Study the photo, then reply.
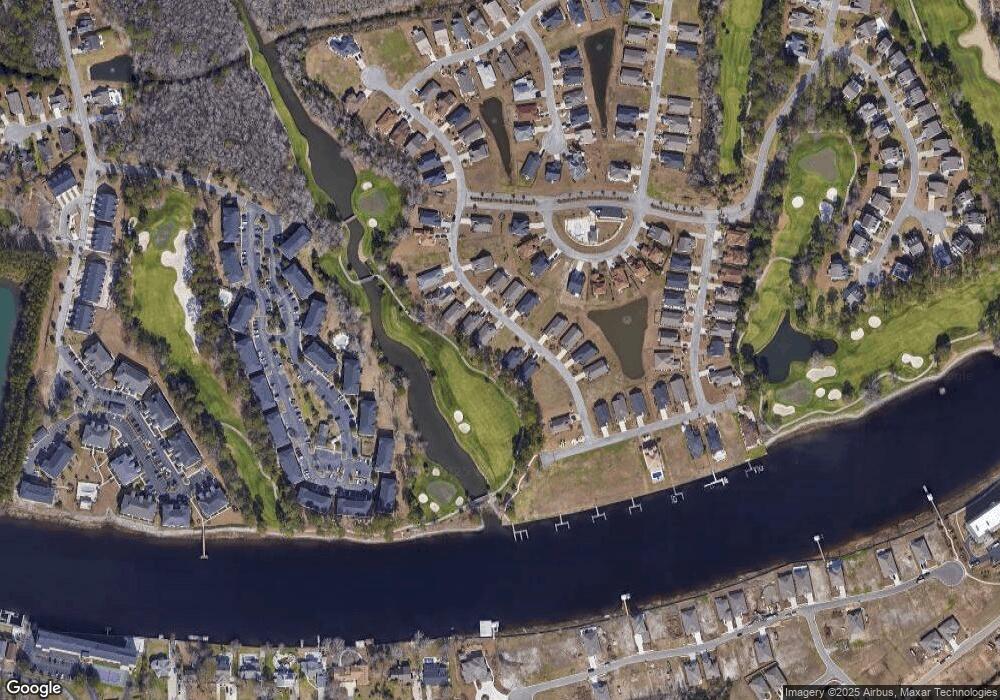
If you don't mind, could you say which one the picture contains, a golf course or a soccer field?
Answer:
golf course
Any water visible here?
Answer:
Yes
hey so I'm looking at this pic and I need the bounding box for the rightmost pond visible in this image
[756,310,838,383]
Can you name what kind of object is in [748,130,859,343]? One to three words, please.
golf course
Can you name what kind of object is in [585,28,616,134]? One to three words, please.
pond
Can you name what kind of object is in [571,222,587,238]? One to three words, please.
swimming pool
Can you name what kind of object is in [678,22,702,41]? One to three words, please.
house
